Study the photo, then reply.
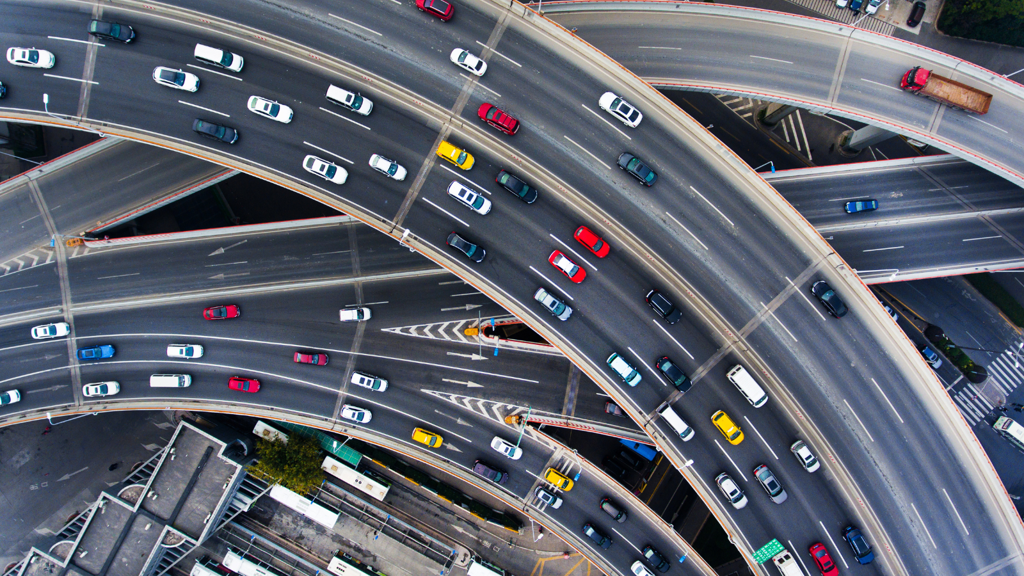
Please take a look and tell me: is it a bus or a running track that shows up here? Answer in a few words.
bus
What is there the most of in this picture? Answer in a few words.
paved ground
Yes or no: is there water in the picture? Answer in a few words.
No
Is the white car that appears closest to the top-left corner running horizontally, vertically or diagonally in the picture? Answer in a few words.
horizontally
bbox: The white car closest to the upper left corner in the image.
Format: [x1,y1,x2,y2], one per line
[7,46,58,70]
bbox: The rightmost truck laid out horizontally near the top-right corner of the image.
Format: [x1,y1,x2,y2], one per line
[900,69,995,113]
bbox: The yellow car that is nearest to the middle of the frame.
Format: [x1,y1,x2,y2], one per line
[436,142,475,171]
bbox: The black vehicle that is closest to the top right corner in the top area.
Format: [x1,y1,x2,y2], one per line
[906,0,928,27]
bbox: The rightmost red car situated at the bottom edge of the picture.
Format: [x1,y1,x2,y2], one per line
[807,540,838,576]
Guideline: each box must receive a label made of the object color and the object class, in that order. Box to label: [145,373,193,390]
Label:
white vehicle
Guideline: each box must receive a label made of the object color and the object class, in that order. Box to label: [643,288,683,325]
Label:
black car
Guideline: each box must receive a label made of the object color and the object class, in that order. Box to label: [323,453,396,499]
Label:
white bus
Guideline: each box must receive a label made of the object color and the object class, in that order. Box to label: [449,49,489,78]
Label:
white car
